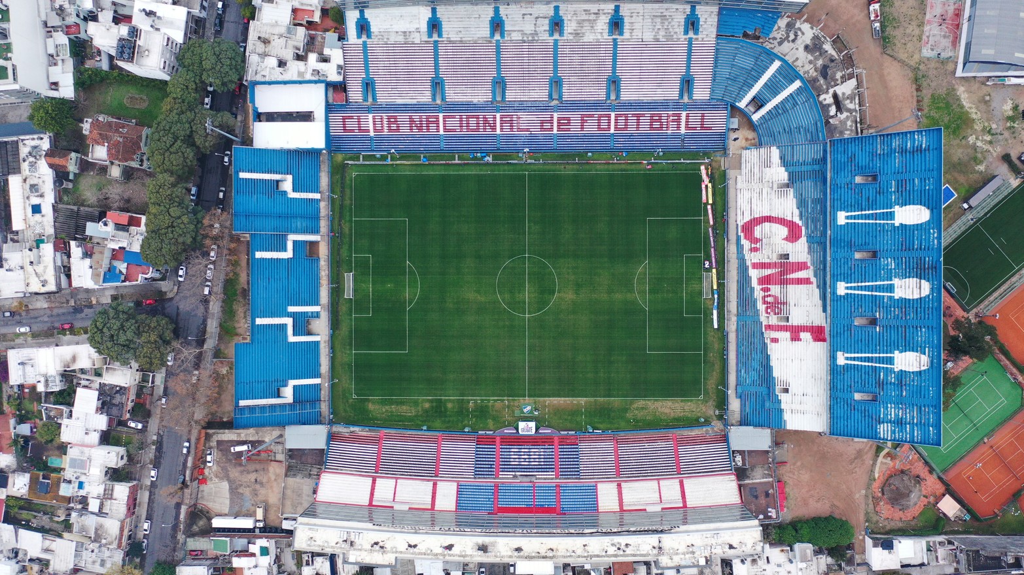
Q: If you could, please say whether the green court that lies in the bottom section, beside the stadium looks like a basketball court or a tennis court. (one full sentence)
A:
From above, the green court that lies in the bottom section, beside the stadium can be identified as a tennis court.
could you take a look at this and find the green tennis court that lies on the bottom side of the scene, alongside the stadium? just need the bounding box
[914,354,1023,473]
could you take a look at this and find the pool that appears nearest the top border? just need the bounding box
[944,182,959,208]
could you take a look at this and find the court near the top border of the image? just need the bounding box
[919,0,962,59]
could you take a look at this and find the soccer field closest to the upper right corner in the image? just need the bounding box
[944,185,1024,311]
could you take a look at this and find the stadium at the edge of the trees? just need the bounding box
[232,0,944,571]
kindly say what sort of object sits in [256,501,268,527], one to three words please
vehicle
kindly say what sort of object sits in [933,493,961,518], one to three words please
shed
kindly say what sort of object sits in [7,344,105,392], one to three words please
house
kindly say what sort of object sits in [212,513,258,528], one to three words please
vehicle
